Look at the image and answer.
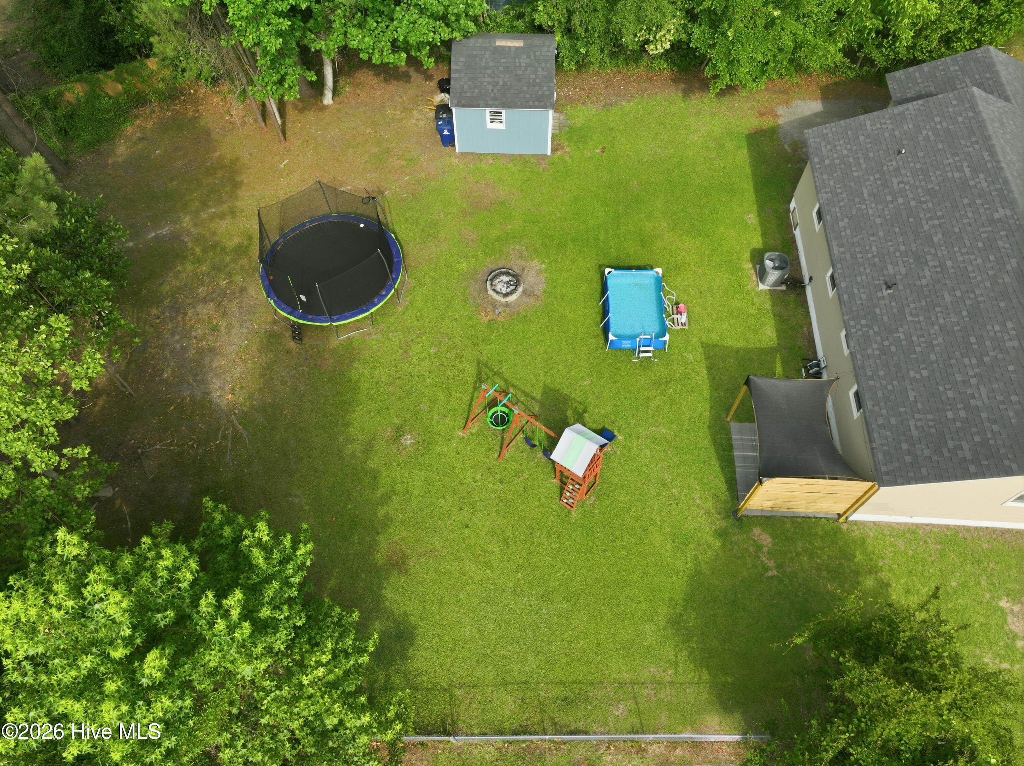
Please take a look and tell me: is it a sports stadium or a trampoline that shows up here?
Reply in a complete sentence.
This aerial view contains a trampoline.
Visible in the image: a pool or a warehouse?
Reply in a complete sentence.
Of the two, only a pool appears.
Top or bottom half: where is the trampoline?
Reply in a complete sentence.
You can find the trampoline in the top half.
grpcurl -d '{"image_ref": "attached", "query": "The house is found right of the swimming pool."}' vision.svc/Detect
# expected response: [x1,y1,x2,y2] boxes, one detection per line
[789,43,1024,530]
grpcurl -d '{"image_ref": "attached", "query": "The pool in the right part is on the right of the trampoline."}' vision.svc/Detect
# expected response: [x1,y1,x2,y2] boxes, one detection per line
[598,267,671,355]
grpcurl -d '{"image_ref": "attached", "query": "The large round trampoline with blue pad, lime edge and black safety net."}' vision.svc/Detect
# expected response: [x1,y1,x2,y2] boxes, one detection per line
[255,176,404,338]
